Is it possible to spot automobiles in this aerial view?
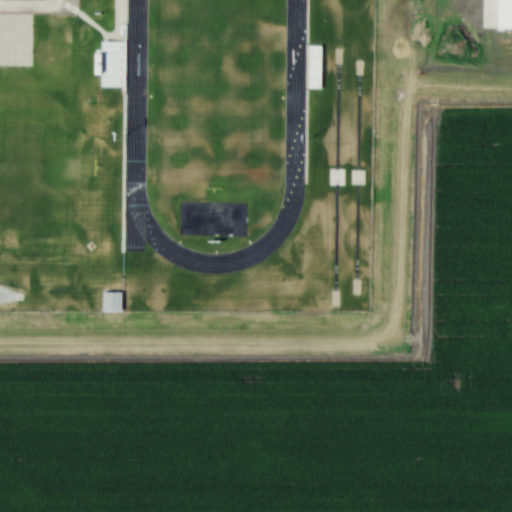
No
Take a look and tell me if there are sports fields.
Yes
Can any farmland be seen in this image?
Yes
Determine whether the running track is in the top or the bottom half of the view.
top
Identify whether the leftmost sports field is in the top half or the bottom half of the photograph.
top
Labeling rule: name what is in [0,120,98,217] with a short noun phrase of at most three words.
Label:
sports field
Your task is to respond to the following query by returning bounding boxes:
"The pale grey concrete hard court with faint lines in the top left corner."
[0,14,34,68]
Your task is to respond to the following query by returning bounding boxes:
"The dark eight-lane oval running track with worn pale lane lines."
[128,0,306,274]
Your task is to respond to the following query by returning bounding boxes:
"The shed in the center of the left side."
[104,292,124,312]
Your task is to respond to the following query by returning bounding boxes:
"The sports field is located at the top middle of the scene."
[148,0,286,254]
